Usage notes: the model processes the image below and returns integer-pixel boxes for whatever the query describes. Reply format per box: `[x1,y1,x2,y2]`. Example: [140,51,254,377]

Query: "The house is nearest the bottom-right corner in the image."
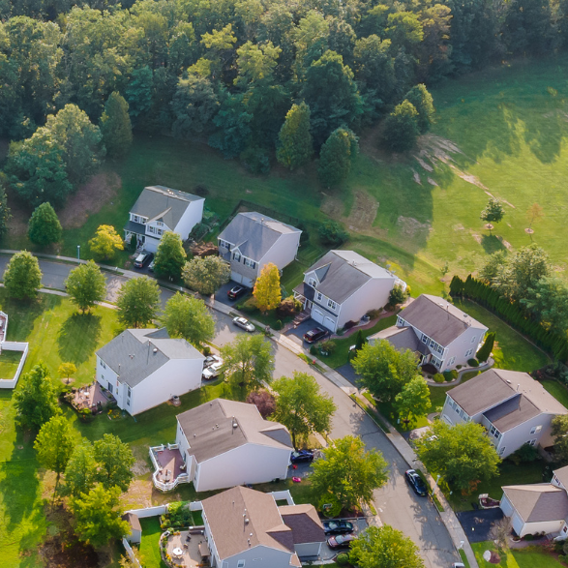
[499,450,568,534]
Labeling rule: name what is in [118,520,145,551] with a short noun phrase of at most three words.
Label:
shed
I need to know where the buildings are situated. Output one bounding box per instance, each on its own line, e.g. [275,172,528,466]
[118,520,145,551]
[366,293,488,375]
[95,326,206,417]
[194,485,326,568]
[151,397,294,494]
[122,176,203,246]
[441,367,568,459]
[291,250,395,331]
[211,211,302,287]
[499,450,568,534]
